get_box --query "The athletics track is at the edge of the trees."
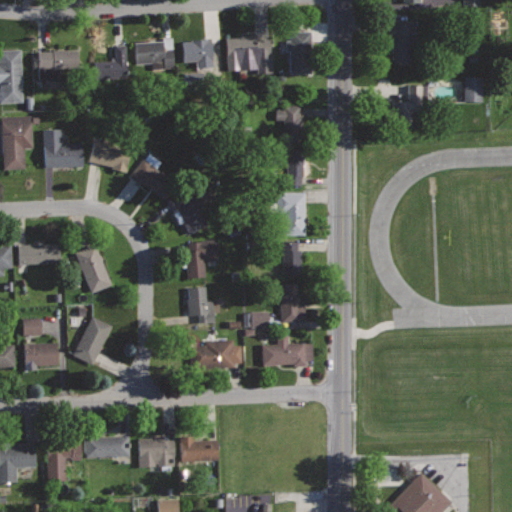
[369,146,512,330]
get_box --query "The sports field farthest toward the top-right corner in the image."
[390,168,512,304]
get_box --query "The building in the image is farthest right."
[464,76,484,102]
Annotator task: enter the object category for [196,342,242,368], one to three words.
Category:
house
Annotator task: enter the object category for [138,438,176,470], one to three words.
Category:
house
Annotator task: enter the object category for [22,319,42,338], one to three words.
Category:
building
